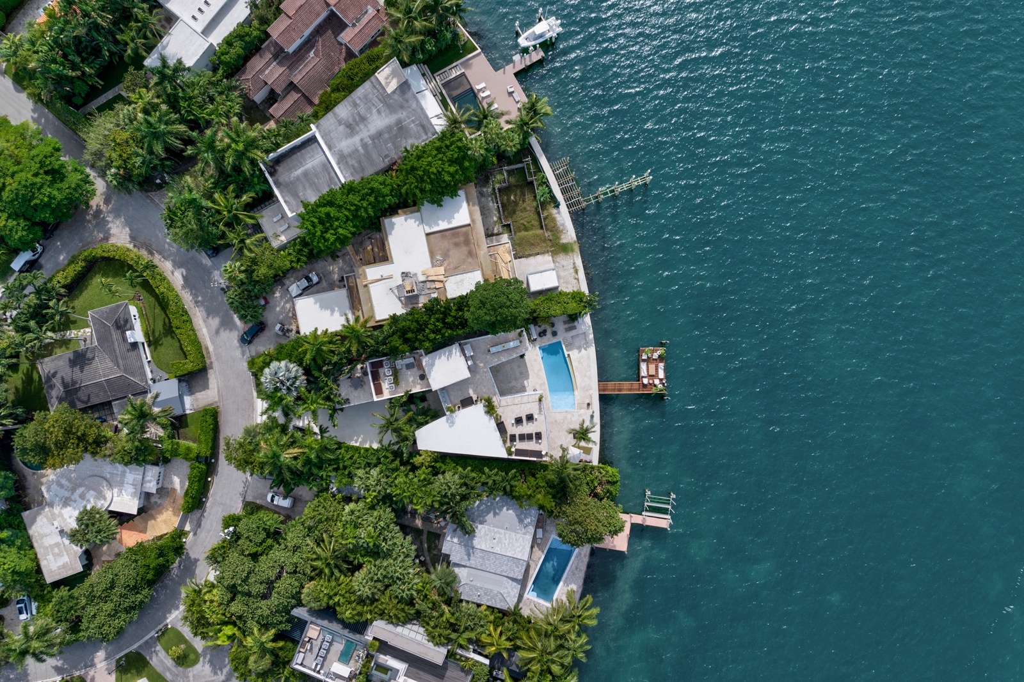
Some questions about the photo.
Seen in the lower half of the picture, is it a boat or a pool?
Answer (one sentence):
What appears in the lower half of the picture is a pool.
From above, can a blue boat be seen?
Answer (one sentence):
No, there's no blue boat here.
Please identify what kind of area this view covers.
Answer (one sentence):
This image shows a residential area.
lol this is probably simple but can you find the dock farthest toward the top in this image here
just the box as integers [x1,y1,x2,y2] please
[460,50,545,131]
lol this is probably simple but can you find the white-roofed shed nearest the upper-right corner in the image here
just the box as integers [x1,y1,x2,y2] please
[527,268,559,294]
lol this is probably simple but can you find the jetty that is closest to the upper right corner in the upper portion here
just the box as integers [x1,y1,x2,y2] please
[584,171,653,205]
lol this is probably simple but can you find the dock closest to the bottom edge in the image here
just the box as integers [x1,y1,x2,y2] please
[592,512,670,552]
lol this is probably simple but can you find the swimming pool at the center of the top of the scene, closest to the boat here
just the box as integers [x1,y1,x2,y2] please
[437,68,492,133]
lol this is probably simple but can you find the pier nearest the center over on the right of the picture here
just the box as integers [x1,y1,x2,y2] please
[600,347,667,394]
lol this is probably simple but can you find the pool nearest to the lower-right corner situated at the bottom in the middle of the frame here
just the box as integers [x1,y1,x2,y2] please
[524,535,579,608]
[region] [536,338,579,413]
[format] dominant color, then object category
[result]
blue swimming pool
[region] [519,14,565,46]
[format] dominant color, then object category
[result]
white boat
